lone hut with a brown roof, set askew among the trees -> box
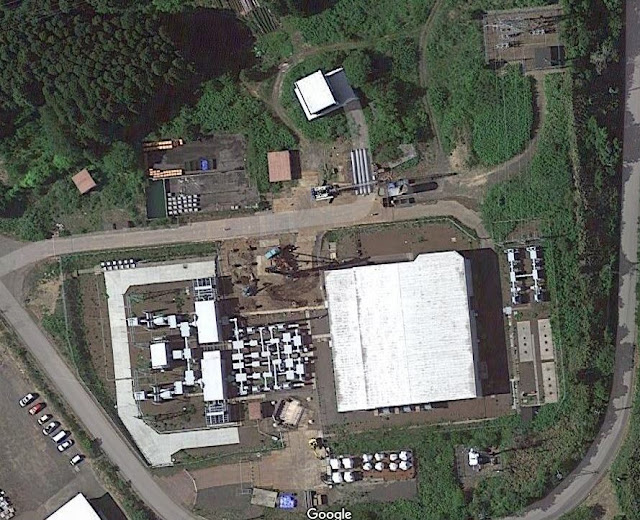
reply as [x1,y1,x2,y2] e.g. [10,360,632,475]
[72,169,97,194]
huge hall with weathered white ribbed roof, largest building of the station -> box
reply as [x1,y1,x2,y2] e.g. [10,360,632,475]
[321,250,481,413]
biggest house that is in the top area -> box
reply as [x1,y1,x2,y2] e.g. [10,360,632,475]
[294,67,358,121]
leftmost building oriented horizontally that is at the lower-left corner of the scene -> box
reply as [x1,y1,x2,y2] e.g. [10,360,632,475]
[42,492,104,520]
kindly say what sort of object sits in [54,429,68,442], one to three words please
vehicle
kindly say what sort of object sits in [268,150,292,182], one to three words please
shed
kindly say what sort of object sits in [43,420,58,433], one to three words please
vehicle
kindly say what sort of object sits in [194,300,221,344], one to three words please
building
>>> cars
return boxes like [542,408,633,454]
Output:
[31,402,44,414]
[54,429,68,442]
[21,392,36,406]
[43,420,58,433]
[59,438,74,451]
[71,452,84,464]
[39,412,51,422]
